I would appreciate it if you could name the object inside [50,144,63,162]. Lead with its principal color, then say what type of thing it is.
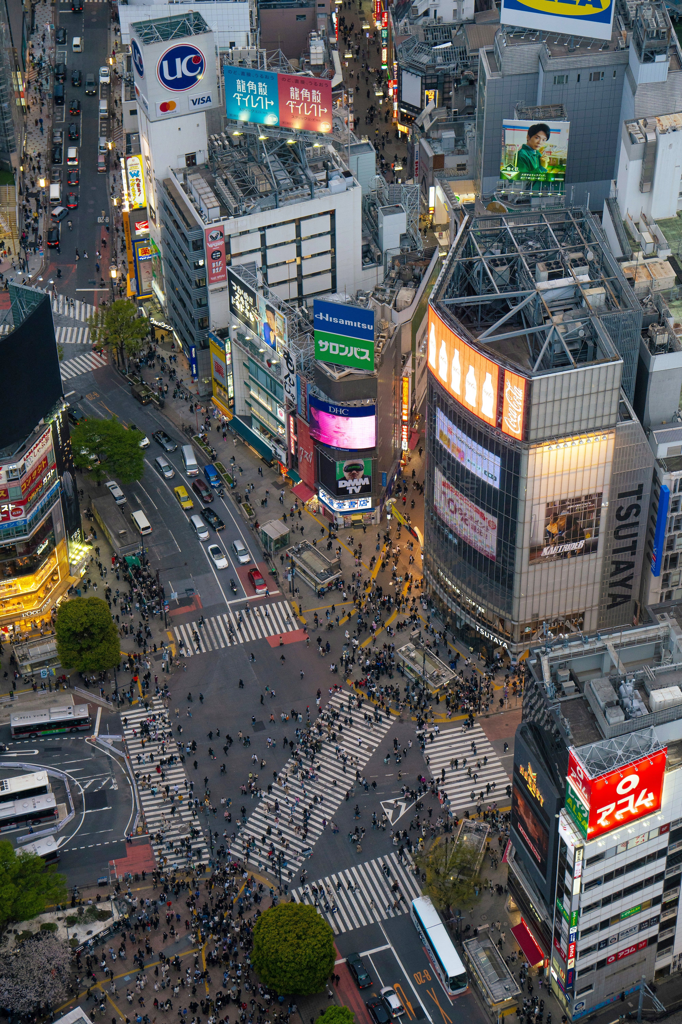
black vehicle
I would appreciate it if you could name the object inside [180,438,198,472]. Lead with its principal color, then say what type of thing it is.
gray vehicle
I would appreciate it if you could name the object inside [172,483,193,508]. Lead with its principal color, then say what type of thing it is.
yellow car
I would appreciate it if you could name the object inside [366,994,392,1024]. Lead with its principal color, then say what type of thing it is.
black car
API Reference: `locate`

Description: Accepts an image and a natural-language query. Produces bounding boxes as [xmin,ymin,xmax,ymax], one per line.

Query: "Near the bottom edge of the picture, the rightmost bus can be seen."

[411,896,469,992]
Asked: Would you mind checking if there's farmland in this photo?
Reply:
No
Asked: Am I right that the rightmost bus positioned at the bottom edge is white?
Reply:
Yes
